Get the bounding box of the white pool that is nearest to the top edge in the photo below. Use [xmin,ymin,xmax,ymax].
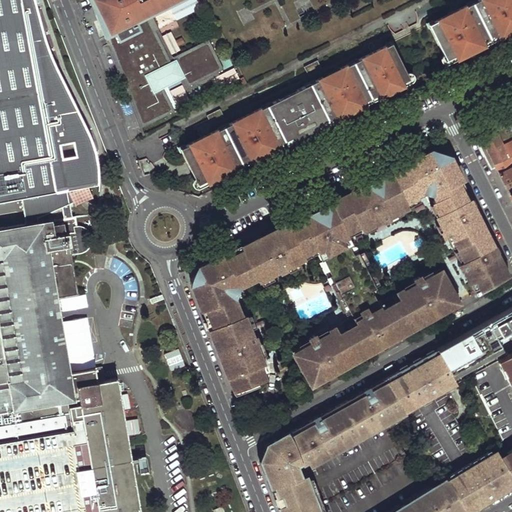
[376,228,418,267]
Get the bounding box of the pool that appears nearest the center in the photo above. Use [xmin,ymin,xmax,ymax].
[286,283,332,318]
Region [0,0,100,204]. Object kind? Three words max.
building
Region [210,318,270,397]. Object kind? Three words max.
building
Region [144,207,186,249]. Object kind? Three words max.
roundabout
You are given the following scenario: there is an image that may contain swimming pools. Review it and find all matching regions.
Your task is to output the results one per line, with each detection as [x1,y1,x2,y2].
[376,228,418,267]
[286,283,332,318]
